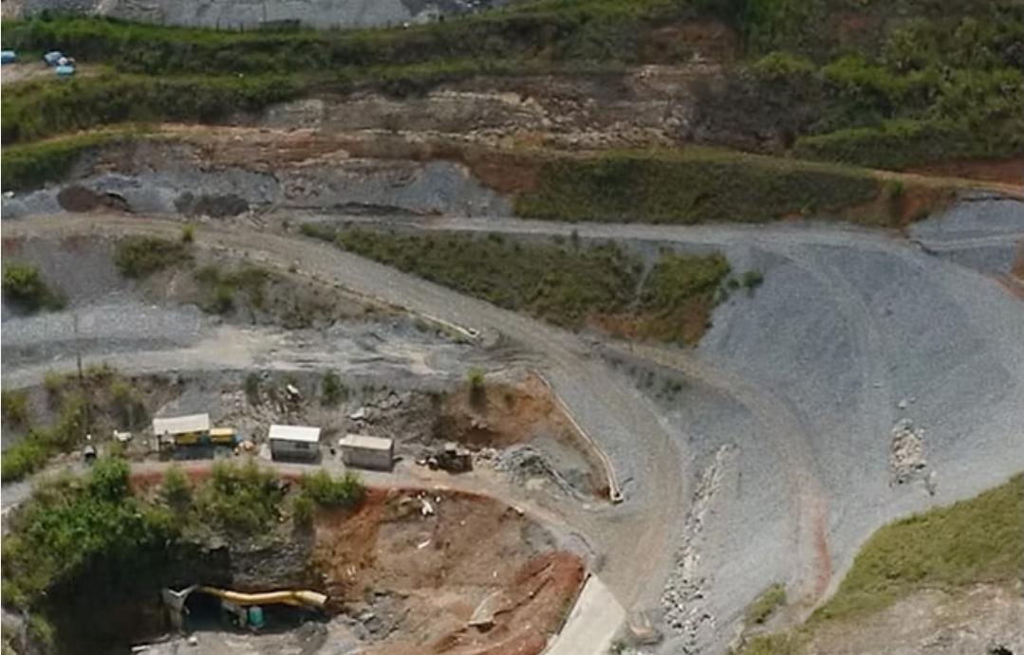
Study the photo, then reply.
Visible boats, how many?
zero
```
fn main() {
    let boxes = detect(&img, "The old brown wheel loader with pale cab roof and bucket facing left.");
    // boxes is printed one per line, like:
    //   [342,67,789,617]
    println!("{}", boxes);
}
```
[412,440,471,474]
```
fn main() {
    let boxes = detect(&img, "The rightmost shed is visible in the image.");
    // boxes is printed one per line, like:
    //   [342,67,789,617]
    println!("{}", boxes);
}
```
[340,432,395,470]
